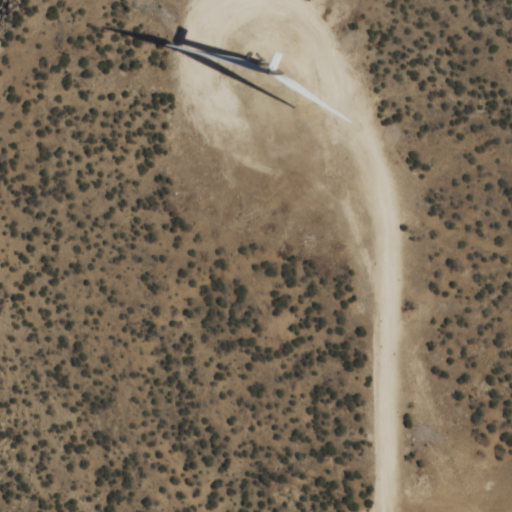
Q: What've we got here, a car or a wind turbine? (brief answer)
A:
wind turbine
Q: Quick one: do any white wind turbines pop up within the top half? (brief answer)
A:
Yes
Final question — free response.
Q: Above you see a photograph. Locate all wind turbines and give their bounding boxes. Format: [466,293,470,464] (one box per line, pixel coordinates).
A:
[166,46,352,124]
